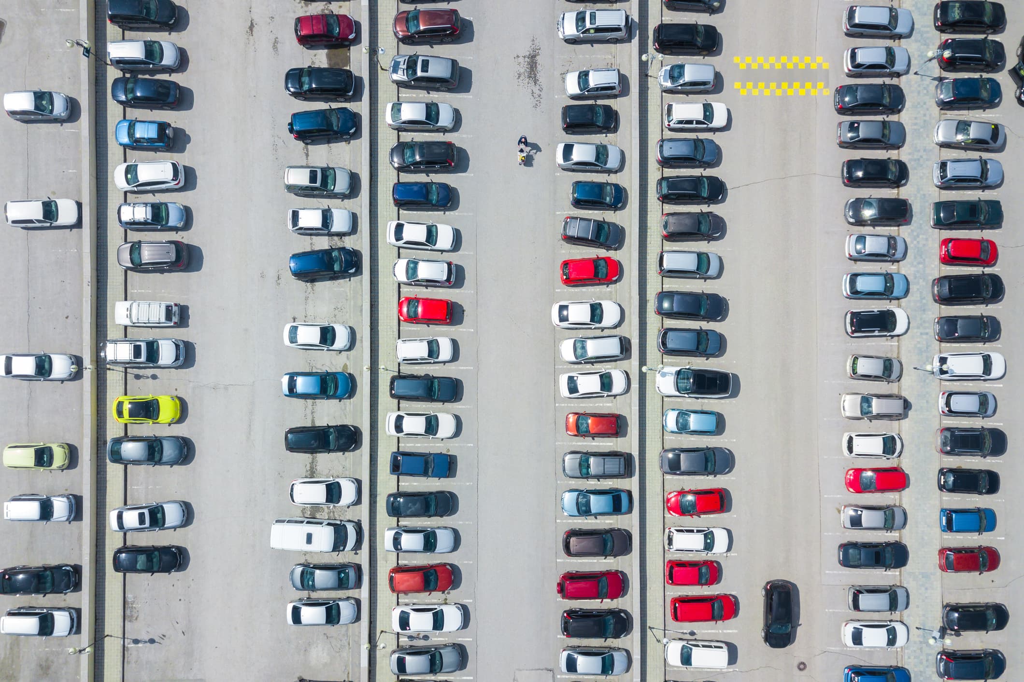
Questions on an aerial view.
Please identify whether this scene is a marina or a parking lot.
parking lot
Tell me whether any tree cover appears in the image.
No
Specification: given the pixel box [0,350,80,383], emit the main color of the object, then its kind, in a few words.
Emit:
white car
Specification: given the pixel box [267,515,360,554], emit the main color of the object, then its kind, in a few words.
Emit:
white van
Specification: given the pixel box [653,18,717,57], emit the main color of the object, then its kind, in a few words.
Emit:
black car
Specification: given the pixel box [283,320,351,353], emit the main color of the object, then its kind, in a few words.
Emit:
white car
